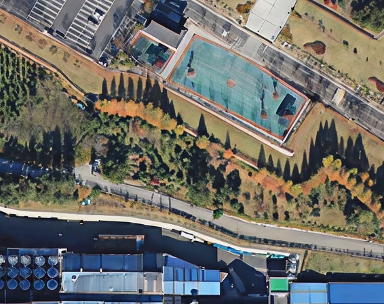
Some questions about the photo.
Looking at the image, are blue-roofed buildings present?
Yes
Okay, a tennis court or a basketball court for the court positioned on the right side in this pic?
tennis court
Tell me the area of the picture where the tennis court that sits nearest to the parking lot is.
top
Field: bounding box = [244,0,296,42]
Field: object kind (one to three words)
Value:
building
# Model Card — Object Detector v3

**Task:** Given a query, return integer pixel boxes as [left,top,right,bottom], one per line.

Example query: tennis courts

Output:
[168,35,310,141]
[131,32,174,72]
